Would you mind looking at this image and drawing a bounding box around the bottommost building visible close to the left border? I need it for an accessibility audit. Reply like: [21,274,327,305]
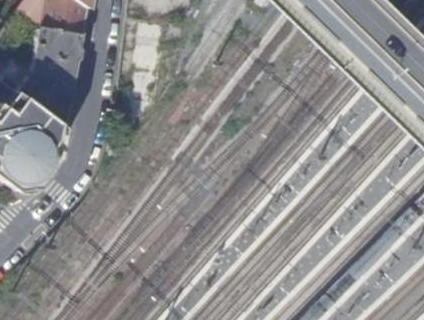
[0,98,75,196]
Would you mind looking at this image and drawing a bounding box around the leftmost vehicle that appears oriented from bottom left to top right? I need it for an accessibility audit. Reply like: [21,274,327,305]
[4,250,24,271]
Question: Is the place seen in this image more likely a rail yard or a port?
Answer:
rail yard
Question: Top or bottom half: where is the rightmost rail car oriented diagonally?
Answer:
bottom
